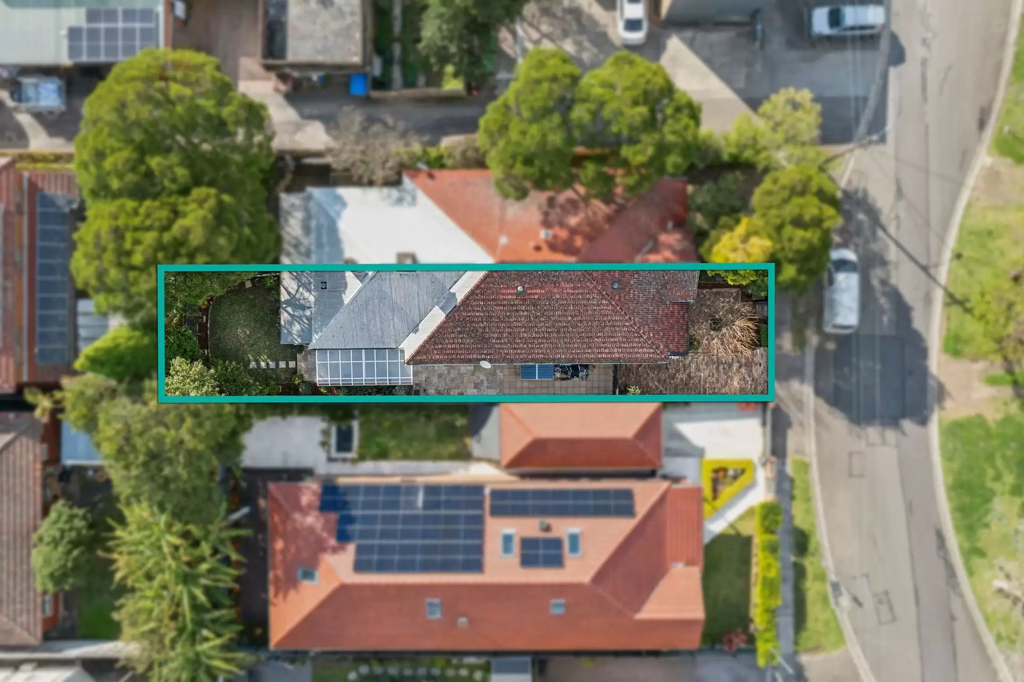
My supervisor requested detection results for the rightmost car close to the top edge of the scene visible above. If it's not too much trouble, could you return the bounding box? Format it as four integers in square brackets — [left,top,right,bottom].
[807,0,889,40]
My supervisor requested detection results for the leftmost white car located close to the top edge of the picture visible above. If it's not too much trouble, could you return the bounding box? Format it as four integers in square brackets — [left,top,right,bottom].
[617,0,649,44]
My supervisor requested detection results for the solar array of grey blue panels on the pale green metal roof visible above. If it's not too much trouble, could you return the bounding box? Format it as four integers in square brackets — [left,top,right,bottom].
[67,8,155,60]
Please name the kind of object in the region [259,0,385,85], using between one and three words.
building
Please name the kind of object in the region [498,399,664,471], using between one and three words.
building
